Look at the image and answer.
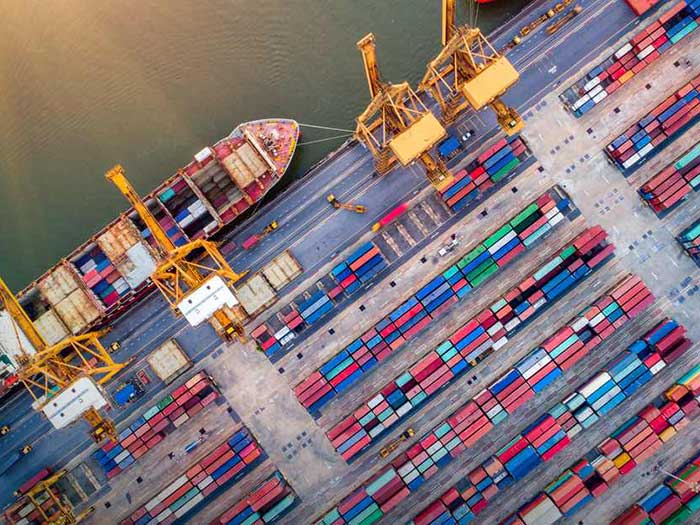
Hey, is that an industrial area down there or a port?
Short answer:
port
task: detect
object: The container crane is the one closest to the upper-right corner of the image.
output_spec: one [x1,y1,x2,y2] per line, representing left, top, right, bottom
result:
[411,0,525,132]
